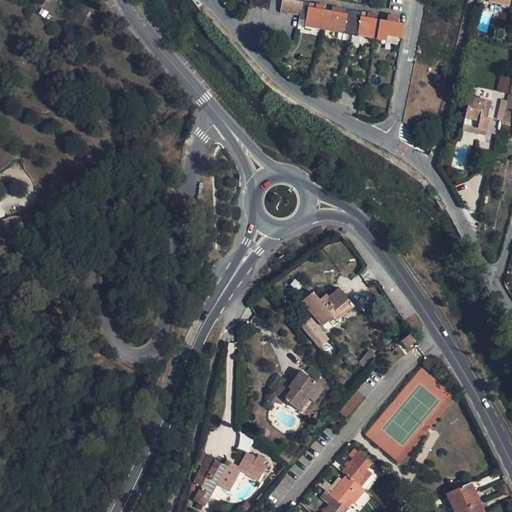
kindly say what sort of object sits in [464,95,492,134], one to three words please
house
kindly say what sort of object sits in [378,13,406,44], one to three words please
house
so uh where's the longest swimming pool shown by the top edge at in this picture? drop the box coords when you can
[478,10,493,33]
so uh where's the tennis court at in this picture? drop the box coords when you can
[366,367,452,464]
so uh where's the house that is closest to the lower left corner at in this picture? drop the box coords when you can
[190,454,270,508]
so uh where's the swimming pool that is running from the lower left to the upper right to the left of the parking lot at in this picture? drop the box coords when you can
[236,484,256,500]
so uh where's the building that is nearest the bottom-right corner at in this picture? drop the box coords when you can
[449,484,486,512]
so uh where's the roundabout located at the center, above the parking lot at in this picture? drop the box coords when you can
[242,149,346,264]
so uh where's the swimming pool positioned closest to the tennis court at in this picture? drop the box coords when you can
[276,410,296,428]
